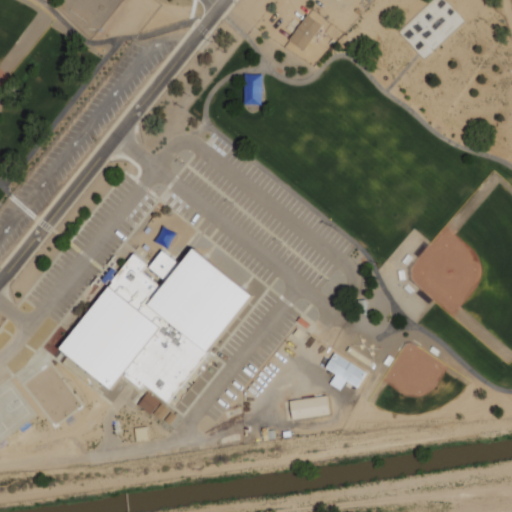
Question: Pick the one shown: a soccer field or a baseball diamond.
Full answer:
There is a baseball diamond in the scene.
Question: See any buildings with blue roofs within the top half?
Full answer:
Yes, a building with a blue roof appears within the top half.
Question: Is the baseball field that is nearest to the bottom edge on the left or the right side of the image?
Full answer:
The baseball field that is nearest to the bottom edge sits on the right side.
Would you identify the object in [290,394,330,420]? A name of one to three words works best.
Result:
barn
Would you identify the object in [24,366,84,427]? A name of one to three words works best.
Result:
sports court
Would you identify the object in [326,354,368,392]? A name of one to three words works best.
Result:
building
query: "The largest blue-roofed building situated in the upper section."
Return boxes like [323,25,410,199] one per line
[244,74,262,105]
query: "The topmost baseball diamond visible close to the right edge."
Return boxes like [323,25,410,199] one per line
[410,171,512,364]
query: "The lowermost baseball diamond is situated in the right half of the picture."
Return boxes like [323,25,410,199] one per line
[376,342,466,414]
